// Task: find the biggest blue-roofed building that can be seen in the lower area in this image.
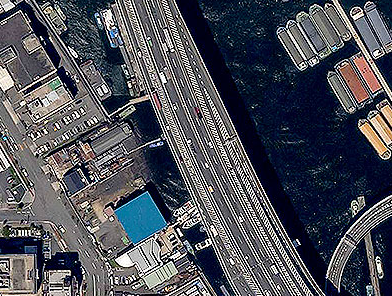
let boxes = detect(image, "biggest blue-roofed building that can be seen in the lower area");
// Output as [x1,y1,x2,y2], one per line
[115,191,169,244]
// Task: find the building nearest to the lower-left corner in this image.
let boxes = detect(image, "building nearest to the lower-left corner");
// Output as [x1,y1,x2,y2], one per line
[0,255,38,293]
